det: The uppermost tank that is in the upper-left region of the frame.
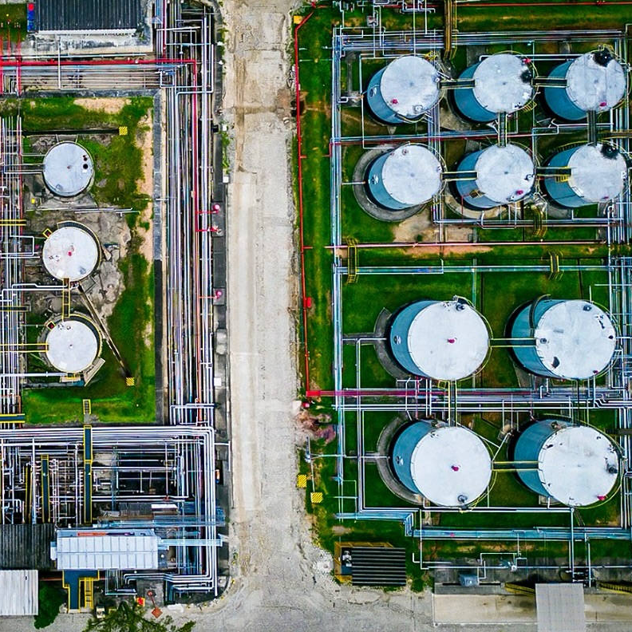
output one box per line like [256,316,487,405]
[39,139,99,203]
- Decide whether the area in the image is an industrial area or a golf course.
industrial area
